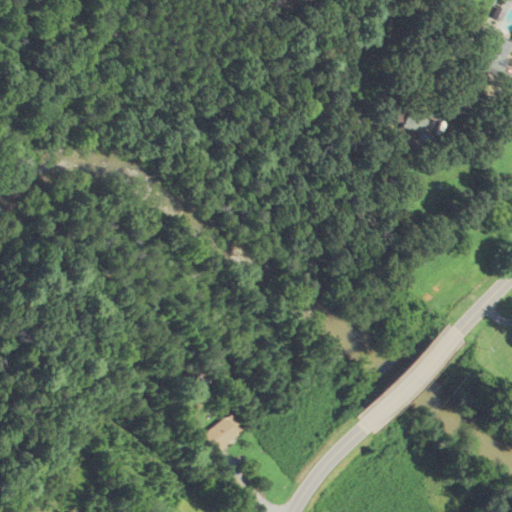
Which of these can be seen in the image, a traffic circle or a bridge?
bridge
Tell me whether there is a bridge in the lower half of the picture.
Yes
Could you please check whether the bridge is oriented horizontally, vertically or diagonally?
diagonally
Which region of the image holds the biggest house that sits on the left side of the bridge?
bottom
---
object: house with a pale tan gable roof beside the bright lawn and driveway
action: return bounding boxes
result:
[208,415,242,454]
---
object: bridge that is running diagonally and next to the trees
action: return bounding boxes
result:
[358,324,467,437]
